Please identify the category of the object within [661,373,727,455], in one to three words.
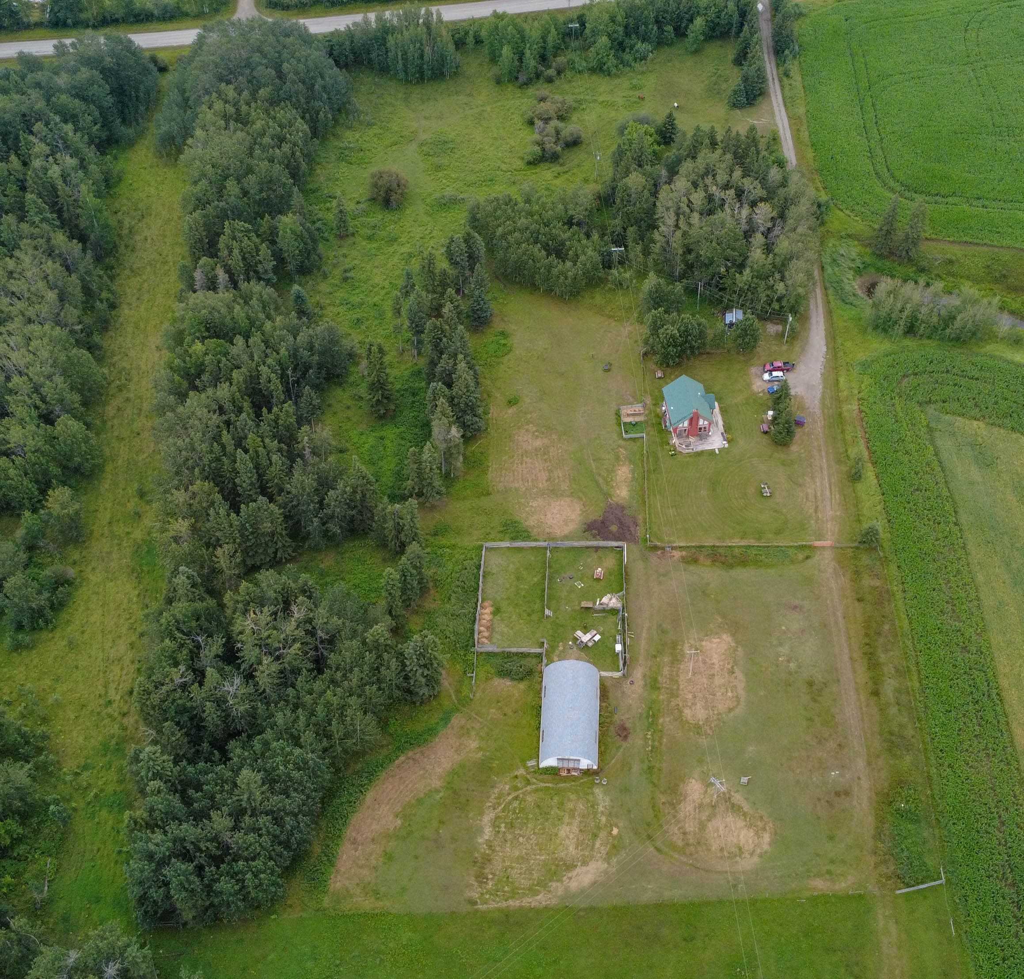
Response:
house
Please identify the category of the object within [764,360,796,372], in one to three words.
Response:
vehicle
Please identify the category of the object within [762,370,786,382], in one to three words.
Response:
vehicle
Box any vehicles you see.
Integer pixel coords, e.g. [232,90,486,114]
[762,370,786,382]
[764,360,796,372]
[765,381,788,394]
